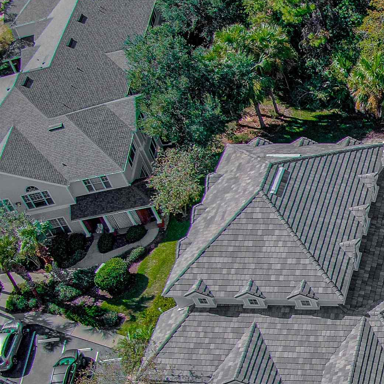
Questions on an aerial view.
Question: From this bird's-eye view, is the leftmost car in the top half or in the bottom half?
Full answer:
It is in the bottom half that the leftmost car appears.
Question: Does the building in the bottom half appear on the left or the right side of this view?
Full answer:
It is on the right.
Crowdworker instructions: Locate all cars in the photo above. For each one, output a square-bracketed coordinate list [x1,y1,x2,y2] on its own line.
[0,319,33,381]
[39,346,91,384]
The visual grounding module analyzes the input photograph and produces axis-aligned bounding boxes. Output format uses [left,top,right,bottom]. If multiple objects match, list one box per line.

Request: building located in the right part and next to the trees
[126,131,384,384]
